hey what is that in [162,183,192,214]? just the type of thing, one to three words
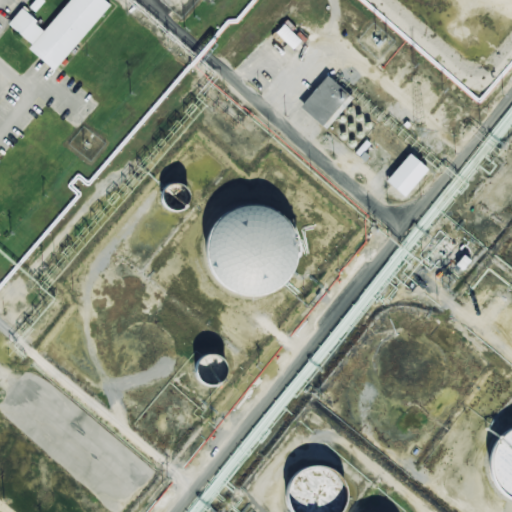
storage tank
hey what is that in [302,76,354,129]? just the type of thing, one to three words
building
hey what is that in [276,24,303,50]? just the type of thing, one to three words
building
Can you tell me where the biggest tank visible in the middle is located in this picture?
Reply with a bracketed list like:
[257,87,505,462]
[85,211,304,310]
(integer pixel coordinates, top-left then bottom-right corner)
[206,206,300,298]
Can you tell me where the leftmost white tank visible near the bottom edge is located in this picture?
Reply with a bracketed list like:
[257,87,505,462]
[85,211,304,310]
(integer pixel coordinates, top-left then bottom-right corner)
[287,465,350,512]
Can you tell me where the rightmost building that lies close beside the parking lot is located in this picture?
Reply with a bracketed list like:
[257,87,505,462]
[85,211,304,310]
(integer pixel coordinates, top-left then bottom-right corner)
[30,0,115,70]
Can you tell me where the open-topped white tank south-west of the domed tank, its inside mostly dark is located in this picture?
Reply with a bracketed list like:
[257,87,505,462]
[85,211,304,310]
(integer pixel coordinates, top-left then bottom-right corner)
[196,353,229,386]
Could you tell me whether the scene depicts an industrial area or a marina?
industrial area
